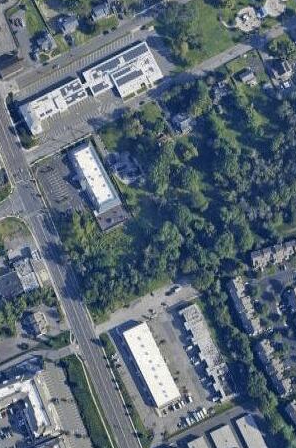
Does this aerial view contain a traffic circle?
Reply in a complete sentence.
No, the scene contains no traffic circle.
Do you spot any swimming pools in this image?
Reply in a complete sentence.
No, the photo shows no swimming pool.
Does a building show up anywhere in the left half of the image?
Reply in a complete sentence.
Yes, a building shows up in the left half of the image.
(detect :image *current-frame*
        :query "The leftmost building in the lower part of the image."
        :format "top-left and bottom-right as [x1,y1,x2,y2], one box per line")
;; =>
[0,271,24,300]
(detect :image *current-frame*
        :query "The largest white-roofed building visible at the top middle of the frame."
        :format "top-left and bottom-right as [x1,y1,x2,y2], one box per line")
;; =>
[83,42,164,101]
